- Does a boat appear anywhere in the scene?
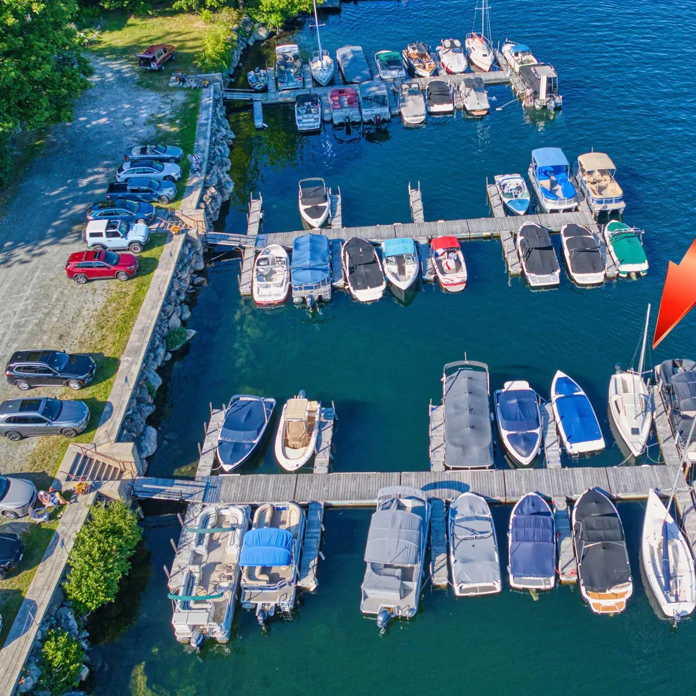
Yes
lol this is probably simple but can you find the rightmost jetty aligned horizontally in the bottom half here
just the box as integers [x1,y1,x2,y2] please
[201,468,685,510]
